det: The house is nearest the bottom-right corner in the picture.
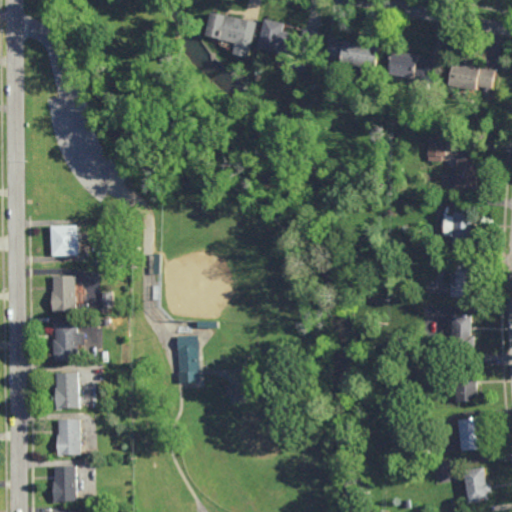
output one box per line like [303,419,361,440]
[464,467,494,500]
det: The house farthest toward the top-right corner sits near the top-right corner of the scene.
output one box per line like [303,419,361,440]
[448,66,500,89]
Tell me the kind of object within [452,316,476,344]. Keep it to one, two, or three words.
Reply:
house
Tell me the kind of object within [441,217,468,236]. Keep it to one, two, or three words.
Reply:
house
